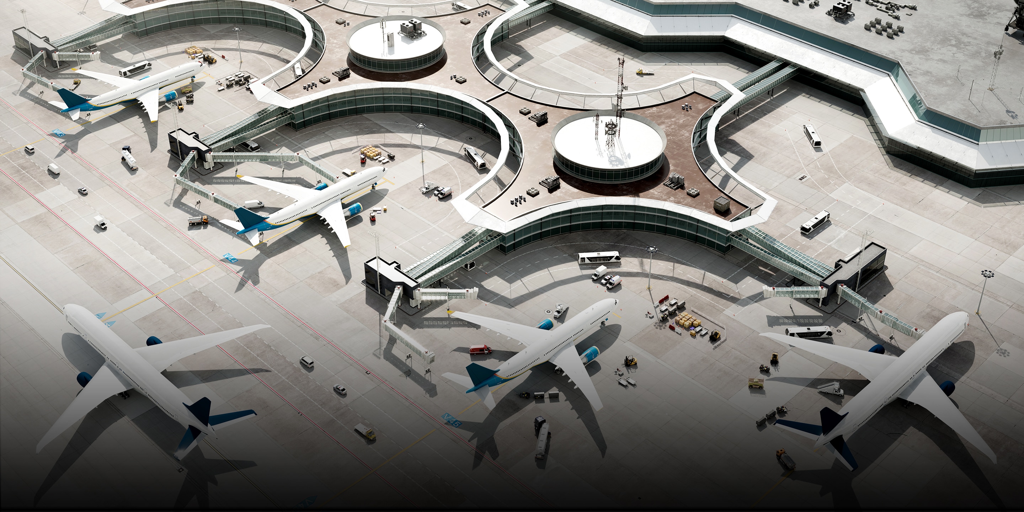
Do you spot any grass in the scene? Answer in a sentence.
No, there's no grass in this view.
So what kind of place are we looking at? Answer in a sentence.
The area seen from above is an airport.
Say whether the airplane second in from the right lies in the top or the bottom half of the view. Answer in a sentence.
You can find the airplane second in from the right in the bottom half.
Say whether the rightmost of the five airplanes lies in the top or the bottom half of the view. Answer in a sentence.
It is in the bottom half that the rightmost of the five airplanes appears.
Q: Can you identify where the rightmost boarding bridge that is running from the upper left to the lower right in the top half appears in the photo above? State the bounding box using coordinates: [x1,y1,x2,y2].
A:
[170,149,267,221]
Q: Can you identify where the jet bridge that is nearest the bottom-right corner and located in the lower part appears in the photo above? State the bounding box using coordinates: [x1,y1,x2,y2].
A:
[836,282,929,344]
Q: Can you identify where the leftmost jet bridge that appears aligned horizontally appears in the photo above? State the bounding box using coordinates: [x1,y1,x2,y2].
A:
[51,50,106,71]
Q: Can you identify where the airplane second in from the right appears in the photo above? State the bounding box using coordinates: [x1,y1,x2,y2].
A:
[441,299,617,409]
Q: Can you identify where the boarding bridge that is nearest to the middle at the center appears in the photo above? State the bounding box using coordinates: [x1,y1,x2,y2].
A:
[413,286,481,312]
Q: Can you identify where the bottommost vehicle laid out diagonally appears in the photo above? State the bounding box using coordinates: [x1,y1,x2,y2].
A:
[774,447,796,473]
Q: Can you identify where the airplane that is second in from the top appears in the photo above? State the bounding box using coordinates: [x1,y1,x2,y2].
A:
[221,168,388,247]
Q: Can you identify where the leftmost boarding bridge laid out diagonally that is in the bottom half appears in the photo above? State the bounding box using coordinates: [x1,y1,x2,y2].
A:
[379,284,439,371]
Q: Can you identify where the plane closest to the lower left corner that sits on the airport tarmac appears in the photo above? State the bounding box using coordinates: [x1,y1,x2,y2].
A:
[35,305,274,459]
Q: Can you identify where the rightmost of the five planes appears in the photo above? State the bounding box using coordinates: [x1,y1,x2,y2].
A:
[757,313,996,468]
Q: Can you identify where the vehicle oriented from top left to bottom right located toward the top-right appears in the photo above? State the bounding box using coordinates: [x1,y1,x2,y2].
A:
[803,126,822,149]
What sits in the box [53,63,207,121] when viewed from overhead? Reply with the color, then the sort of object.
white airplane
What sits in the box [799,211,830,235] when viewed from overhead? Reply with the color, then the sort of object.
white bus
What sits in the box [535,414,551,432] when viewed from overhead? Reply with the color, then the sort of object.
black vehicle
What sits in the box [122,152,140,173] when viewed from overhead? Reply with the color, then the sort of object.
white vehicle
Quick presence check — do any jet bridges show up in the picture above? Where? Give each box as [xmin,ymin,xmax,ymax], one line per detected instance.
[836,282,929,344]
[18,49,92,103]
[413,286,481,312]
[755,284,827,310]
[379,284,439,371]
[205,150,348,185]
[170,149,267,221]
[51,50,106,71]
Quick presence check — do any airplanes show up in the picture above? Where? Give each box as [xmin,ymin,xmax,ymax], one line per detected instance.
[757,313,996,468]
[441,299,617,409]
[221,168,388,247]
[53,63,207,121]
[35,305,274,459]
